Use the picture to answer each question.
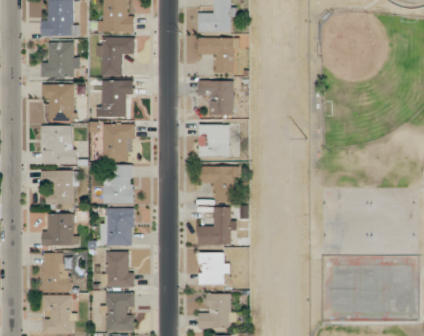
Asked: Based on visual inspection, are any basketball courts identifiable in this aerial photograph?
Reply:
Yes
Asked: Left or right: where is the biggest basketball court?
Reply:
right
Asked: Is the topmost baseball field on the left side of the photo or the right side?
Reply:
right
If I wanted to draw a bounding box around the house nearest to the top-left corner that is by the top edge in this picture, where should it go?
[40,0,80,36]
